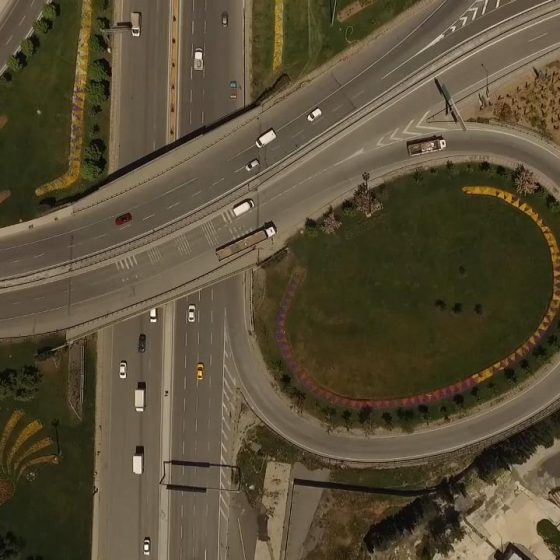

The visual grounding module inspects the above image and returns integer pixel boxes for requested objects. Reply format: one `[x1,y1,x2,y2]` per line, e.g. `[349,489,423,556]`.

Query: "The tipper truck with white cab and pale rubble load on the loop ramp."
[406,138,446,155]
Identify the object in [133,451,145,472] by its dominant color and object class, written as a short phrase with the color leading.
white vehicle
